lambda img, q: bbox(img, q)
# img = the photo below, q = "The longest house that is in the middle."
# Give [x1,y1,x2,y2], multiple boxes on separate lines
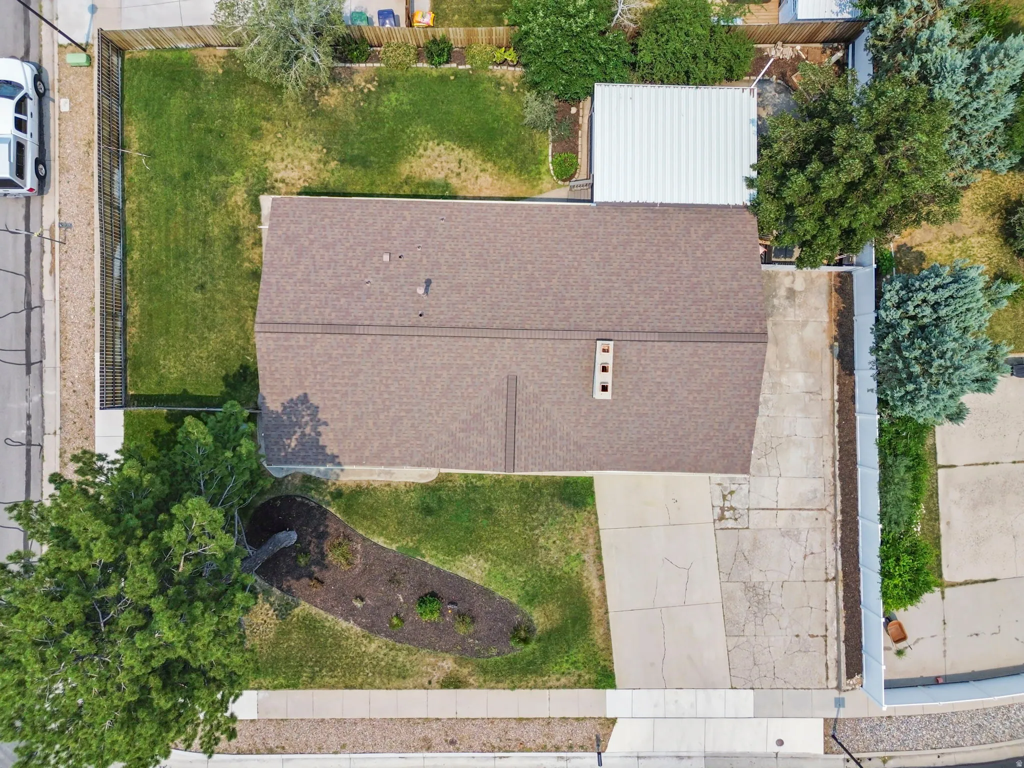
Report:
[254,194,767,478]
